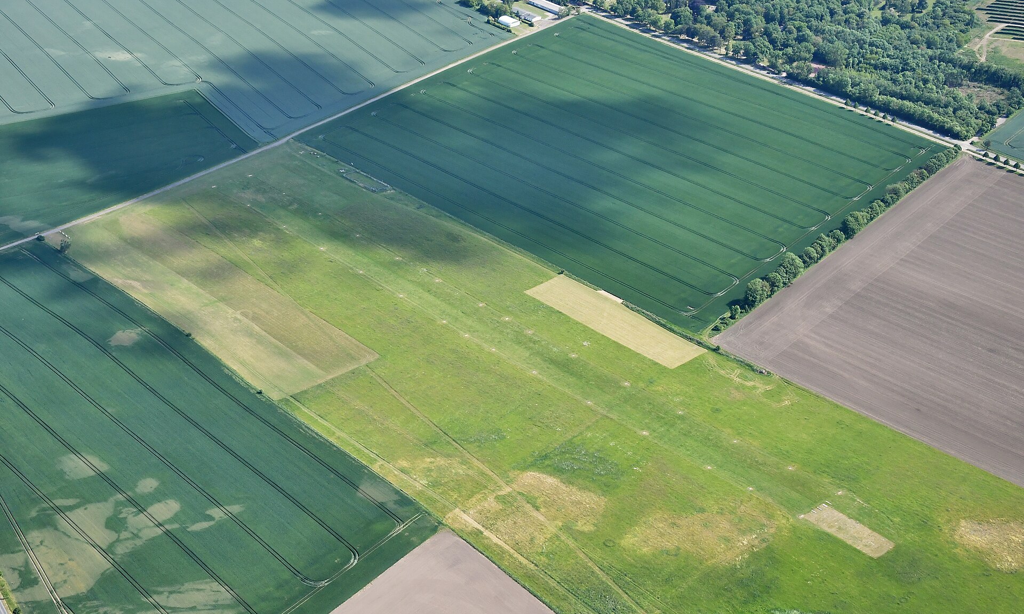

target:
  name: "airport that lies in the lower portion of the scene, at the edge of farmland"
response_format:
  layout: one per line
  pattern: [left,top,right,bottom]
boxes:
[44,140,1024,614]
